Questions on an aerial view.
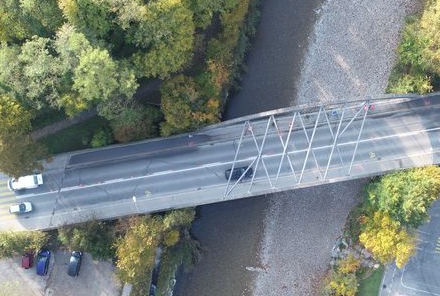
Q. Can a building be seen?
No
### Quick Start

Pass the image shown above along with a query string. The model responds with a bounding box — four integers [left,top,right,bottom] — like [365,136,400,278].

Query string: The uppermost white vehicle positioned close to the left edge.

[11,175,43,190]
